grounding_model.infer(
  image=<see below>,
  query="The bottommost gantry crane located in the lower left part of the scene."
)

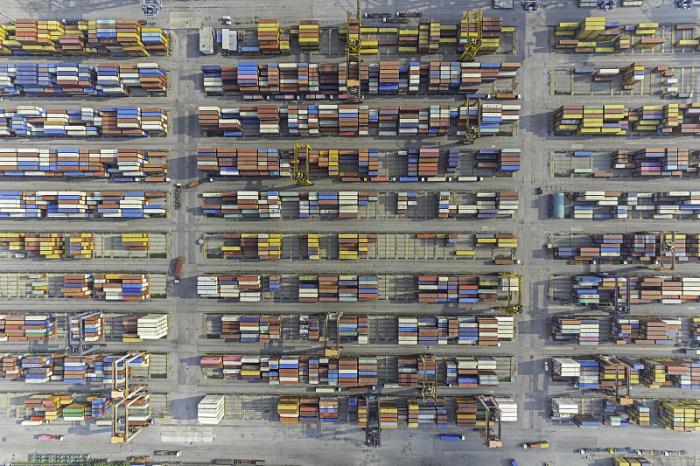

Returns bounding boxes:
[111,392,146,446]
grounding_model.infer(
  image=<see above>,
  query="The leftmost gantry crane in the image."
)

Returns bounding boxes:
[68,309,105,357]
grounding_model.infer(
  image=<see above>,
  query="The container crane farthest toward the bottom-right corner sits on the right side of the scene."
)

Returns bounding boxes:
[594,354,632,407]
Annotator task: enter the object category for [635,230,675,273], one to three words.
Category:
container crane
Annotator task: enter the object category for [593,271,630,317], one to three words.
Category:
container crane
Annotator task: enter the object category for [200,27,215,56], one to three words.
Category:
building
